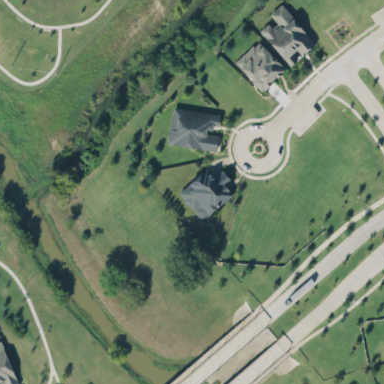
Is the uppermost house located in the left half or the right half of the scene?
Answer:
right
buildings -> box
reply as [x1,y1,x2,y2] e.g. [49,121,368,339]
[180,162,236,221]
[236,42,286,92]
[0,342,18,384]
[168,108,221,152]
[261,4,315,66]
